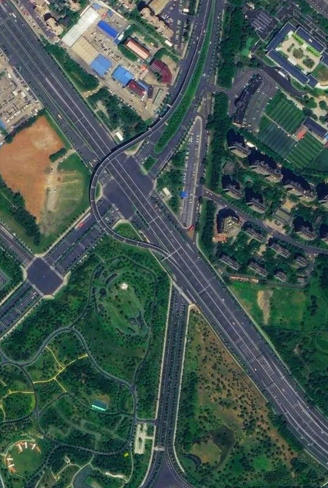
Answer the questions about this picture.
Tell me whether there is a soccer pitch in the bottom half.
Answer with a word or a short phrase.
No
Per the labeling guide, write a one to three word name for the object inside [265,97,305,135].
soccer field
